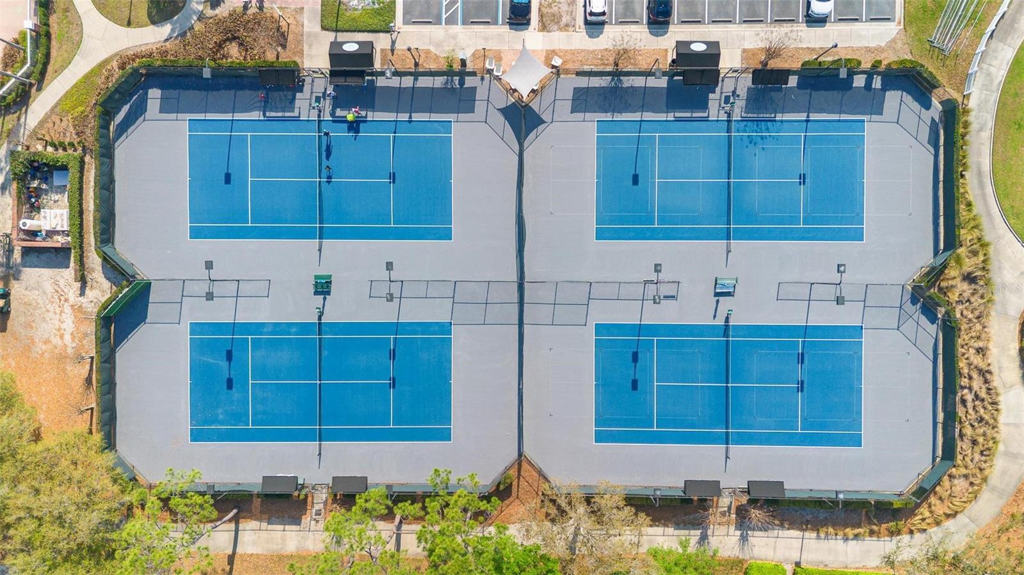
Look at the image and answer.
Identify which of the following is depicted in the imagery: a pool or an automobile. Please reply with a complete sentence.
There is an automobile in the scene.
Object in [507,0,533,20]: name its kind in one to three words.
car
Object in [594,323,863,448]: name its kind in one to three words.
tennis court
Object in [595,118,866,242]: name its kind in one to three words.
tennis court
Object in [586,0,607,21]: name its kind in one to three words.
car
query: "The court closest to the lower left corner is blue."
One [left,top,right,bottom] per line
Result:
[189,321,452,443]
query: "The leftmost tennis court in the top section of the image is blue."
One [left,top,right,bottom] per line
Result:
[188,118,453,241]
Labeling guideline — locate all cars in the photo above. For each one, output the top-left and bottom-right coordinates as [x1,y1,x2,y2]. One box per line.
[810,0,835,17]
[586,0,607,21]
[507,0,533,20]
[651,0,673,19]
